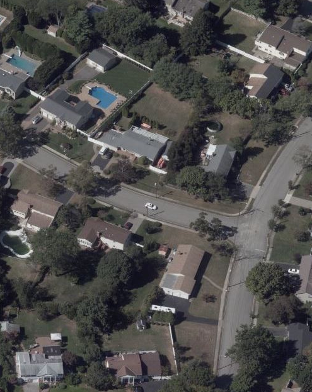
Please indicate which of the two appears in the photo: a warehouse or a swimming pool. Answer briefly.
swimming pool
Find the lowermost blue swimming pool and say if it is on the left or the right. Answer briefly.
left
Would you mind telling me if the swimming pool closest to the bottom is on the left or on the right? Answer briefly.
left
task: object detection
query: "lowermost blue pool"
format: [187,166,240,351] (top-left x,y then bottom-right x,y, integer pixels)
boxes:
[87,85,118,110]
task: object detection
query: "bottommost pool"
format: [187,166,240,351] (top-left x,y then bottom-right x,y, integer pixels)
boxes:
[1,233,32,256]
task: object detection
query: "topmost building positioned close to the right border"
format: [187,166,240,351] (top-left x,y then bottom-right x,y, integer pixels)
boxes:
[256,25,310,72]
